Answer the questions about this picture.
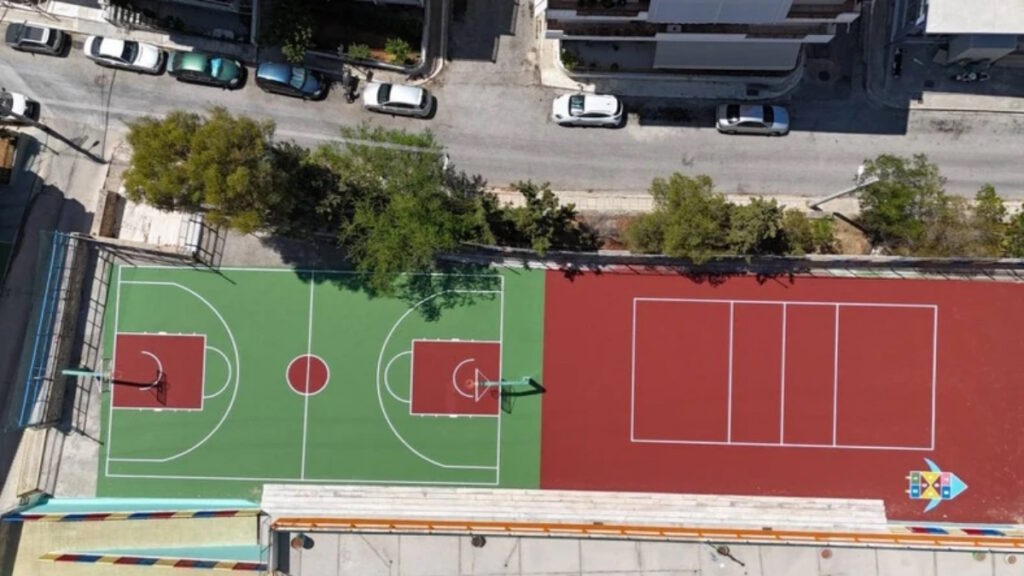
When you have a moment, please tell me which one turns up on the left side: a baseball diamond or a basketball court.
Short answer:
basketball court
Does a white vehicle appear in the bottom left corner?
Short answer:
No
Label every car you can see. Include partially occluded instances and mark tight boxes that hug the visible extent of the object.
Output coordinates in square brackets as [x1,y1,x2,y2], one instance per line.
[552,89,622,127]
[364,78,433,118]
[83,35,168,77]
[167,48,247,89]
[255,60,327,101]
[0,88,37,125]
[717,101,786,137]
[2,16,71,58]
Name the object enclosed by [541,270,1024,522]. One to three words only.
sports court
